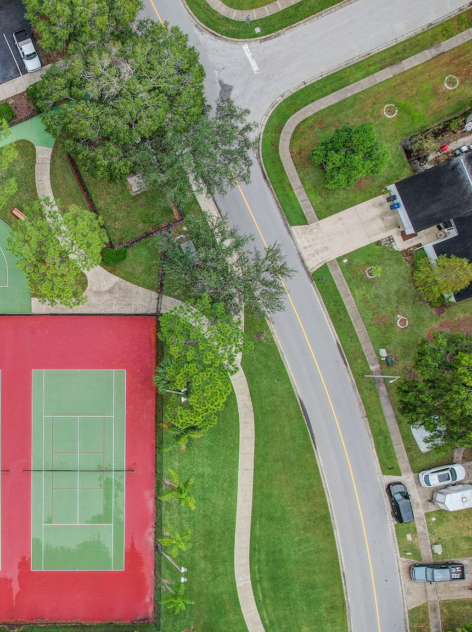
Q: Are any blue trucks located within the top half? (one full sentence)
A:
No, no blue truck appears within the top half.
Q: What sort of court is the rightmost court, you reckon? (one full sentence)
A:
Looking closely, the rightmost court is a tennis court.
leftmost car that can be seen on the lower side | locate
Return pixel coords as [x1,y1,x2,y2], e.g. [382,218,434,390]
[383,482,414,524]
